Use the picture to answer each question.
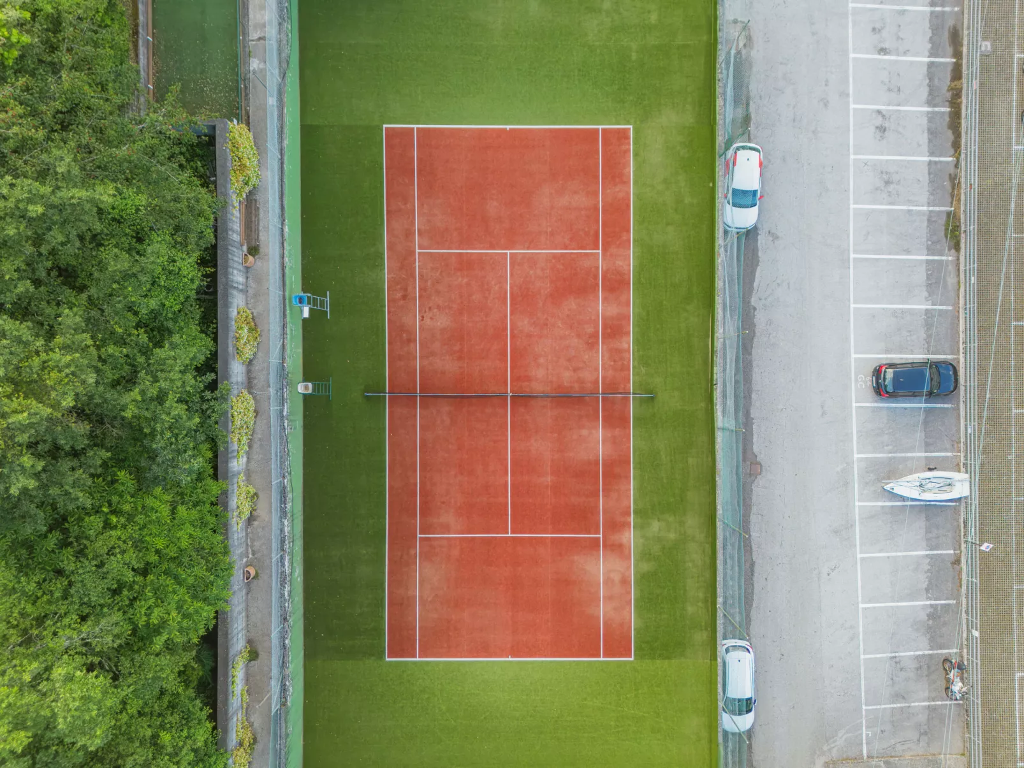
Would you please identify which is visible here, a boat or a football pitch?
boat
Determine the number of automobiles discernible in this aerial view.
3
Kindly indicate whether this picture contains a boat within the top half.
No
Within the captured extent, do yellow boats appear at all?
No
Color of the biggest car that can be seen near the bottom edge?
white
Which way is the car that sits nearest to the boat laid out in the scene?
from left to right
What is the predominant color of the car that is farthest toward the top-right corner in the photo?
white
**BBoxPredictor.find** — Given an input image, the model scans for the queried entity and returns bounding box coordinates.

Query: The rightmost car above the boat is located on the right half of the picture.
[871,356,960,402]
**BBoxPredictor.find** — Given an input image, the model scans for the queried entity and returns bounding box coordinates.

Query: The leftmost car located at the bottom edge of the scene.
[725,638,763,731]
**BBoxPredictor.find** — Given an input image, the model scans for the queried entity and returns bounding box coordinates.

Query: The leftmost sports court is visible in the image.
[148,0,247,125]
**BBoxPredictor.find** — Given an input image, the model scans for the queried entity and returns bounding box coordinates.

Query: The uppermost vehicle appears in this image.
[725,144,767,232]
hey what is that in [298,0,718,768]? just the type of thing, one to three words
tennis court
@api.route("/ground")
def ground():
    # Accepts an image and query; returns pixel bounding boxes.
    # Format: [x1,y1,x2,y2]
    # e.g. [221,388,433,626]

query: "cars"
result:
[871,356,960,402]
[725,638,763,731]
[725,144,767,232]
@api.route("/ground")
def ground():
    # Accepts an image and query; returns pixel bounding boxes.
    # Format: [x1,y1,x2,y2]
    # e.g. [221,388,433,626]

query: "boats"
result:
[882,468,971,504]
